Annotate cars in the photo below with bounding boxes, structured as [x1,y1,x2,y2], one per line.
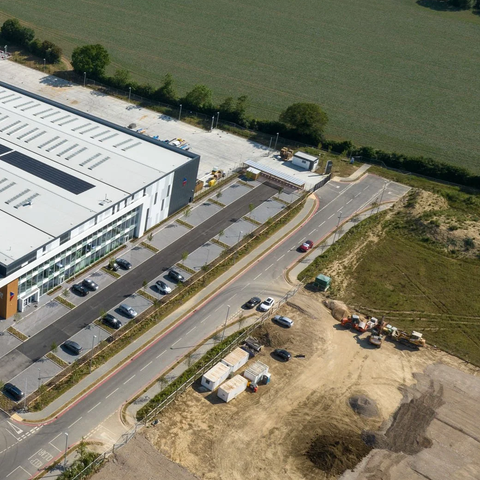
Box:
[259,296,276,310]
[2,381,25,400]
[118,302,139,318]
[114,257,134,269]
[71,284,89,295]
[63,338,85,354]
[154,278,174,293]
[167,268,187,283]
[109,260,121,270]
[103,313,123,329]
[81,277,100,291]
[273,311,296,327]
[270,346,295,362]
[245,295,264,308]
